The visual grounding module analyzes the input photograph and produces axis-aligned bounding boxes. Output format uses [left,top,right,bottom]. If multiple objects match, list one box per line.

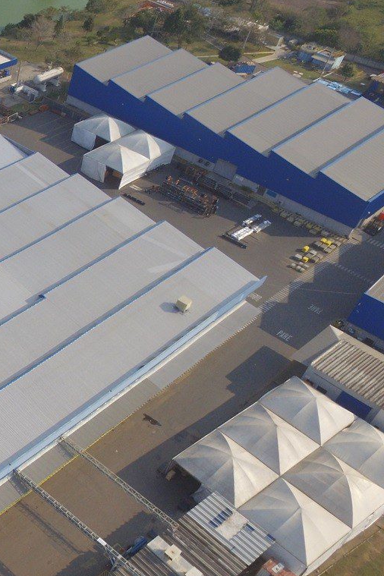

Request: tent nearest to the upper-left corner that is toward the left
[66,117,126,151]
